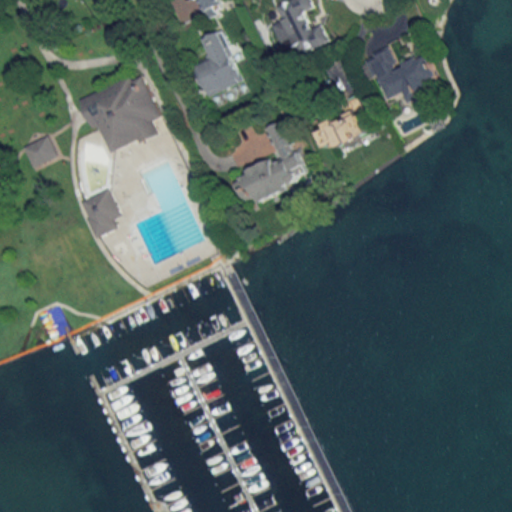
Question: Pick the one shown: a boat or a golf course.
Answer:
boat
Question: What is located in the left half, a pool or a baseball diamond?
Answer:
pool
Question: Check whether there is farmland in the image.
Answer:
No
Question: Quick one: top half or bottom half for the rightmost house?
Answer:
top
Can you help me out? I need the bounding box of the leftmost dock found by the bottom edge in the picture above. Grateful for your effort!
[90,376,183,512]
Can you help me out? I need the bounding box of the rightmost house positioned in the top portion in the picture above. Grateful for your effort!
[370,45,434,100]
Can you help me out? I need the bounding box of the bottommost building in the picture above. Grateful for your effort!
[82,189,120,236]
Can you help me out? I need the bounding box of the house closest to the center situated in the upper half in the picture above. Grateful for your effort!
[234,150,307,204]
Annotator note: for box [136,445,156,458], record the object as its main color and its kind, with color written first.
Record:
white boat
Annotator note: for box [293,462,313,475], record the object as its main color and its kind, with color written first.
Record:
white boat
